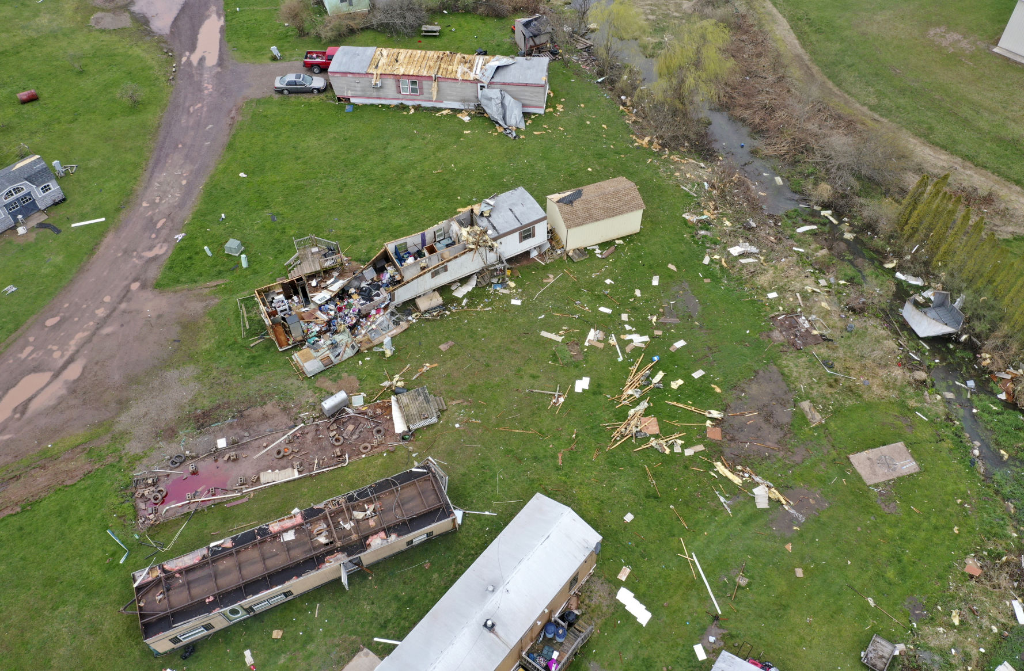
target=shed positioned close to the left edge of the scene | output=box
[0,154,66,232]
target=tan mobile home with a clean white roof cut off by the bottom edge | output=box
[365,493,604,671]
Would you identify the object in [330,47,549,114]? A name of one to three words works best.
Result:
house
